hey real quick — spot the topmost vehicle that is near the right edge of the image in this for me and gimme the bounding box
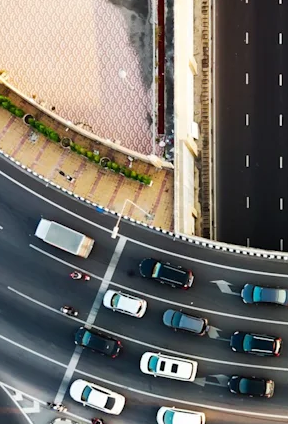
[241,282,288,308]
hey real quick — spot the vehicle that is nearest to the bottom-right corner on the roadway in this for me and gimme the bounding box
[229,373,274,398]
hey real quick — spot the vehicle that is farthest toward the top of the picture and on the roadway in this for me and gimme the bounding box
[33,216,98,262]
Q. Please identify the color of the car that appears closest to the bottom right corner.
black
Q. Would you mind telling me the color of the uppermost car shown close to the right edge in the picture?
blue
